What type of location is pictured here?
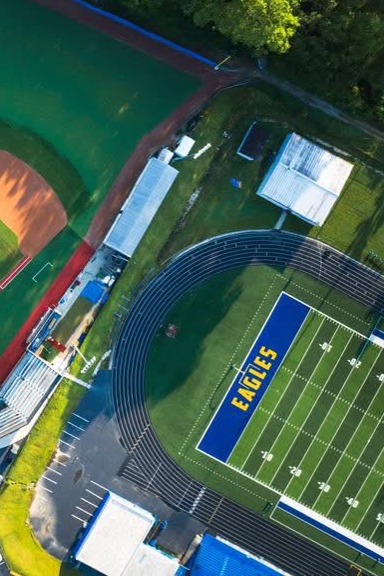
sports ground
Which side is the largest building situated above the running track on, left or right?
right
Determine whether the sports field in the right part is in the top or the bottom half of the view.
bottom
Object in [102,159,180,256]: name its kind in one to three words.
building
